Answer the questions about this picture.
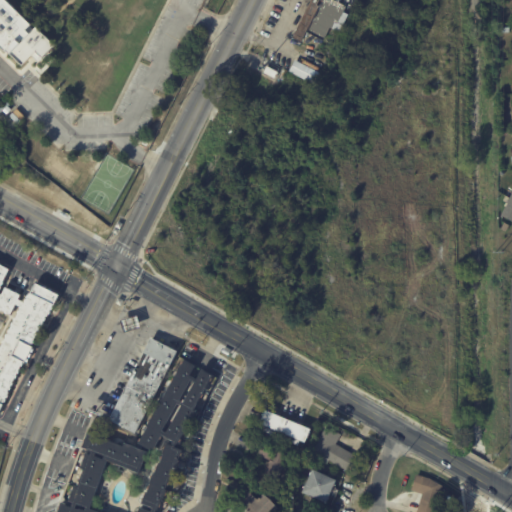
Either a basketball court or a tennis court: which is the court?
basketball court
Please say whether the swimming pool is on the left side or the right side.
left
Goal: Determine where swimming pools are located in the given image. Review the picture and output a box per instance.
[108,476,130,508]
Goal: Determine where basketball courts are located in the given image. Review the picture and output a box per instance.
[82,154,134,214]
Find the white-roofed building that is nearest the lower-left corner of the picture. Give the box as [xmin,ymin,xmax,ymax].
[0,336,36,403]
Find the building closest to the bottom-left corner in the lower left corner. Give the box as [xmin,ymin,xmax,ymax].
[58,448,108,512]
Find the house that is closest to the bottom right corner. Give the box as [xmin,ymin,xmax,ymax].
[412,474,444,512]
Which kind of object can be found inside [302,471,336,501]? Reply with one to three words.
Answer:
house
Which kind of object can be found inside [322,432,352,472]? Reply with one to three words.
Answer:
house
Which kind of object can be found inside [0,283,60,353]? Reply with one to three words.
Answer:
building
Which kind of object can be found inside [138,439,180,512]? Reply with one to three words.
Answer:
building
